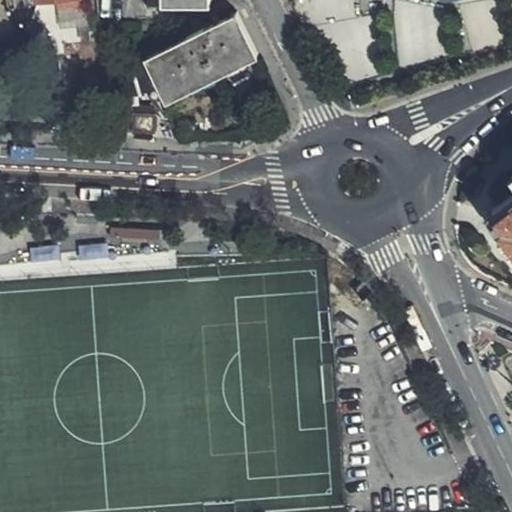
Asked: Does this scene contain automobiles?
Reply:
Yes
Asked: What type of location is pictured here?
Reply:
sports ground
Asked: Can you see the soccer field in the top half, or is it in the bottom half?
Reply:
bottom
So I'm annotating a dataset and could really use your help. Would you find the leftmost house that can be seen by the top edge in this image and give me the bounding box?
[32,0,93,52]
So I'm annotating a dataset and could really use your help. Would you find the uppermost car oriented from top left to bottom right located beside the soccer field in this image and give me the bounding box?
[336,312,358,330]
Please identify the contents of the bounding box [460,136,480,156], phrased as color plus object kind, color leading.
white car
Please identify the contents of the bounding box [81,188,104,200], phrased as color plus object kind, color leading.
white vehicle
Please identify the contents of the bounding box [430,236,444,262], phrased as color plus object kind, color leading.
white car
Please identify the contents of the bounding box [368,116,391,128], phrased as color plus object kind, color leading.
white vehicle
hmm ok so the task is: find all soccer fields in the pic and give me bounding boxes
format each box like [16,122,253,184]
[0,258,344,512]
